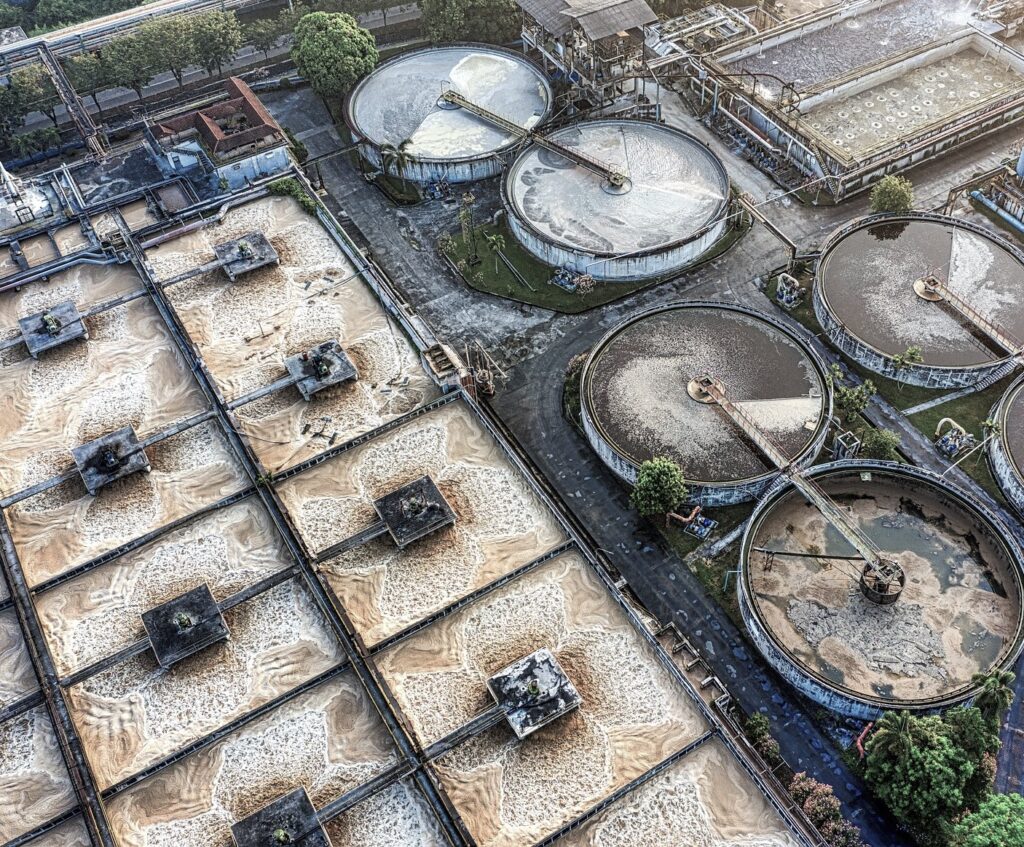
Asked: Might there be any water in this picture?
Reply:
Yes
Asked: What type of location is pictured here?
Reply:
industrial area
